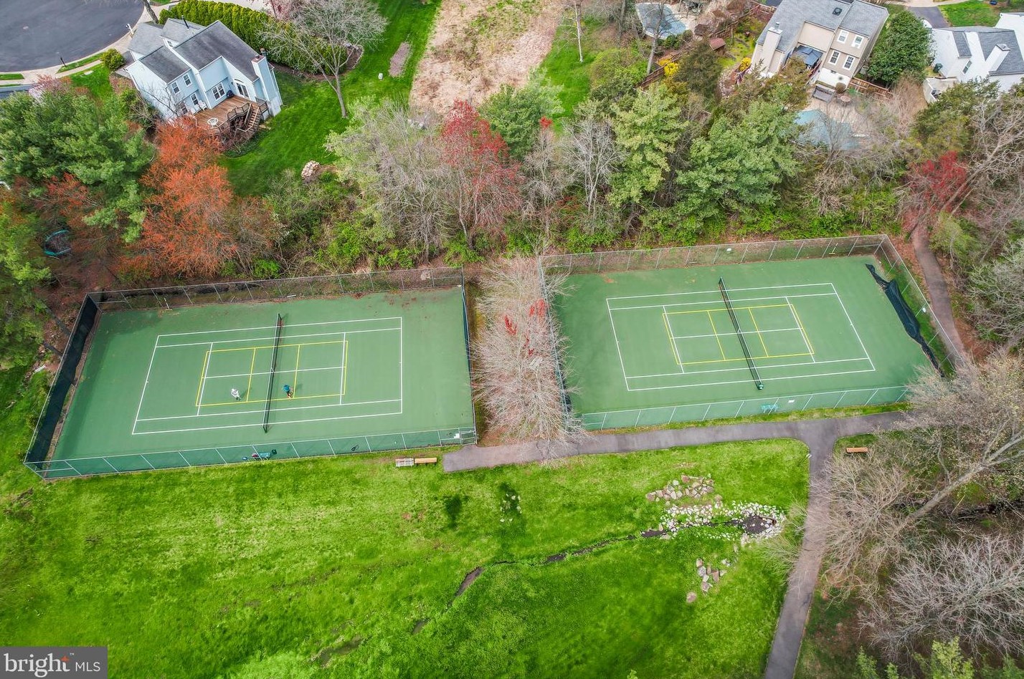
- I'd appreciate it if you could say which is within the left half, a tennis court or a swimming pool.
tennis court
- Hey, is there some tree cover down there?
Yes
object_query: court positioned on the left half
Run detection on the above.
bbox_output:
[48,287,476,470]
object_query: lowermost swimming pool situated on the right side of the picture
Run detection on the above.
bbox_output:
[797,108,861,152]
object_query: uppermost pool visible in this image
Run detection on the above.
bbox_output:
[635,1,688,39]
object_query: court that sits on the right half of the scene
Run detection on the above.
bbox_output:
[541,255,948,432]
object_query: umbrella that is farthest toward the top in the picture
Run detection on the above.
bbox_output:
[690,18,714,36]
